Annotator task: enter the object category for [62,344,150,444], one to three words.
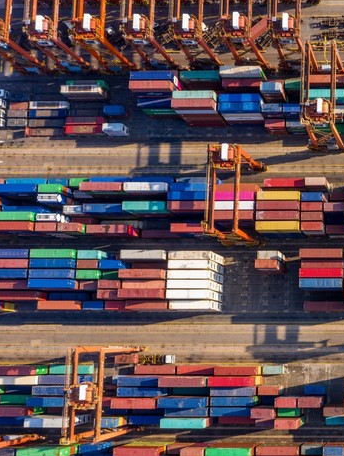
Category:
container crane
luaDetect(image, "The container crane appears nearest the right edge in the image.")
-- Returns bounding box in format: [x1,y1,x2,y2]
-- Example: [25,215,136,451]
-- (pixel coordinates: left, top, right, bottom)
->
[298,39,344,147]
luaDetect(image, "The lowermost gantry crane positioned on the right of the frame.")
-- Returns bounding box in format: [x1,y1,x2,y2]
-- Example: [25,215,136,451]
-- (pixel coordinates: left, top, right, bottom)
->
[203,142,268,243]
